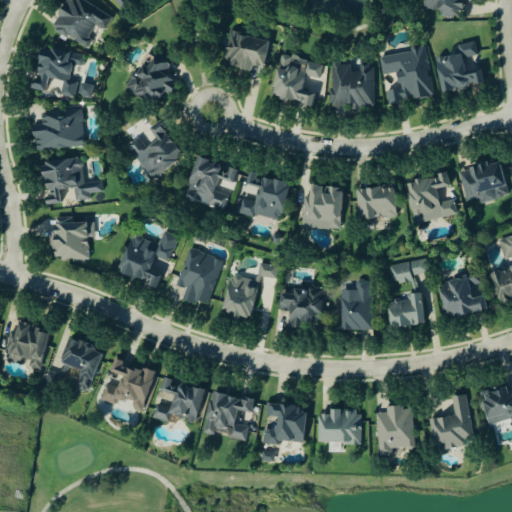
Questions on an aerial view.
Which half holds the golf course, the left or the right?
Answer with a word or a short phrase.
left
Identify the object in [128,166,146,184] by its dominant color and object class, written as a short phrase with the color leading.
blue swimming pool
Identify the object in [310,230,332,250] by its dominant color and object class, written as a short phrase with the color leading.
blue swimming pool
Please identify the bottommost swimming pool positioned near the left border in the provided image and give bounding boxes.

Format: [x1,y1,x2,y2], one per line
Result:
[4,364,28,378]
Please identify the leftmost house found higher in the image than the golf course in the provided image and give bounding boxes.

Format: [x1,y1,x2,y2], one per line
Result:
[2,320,49,370]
